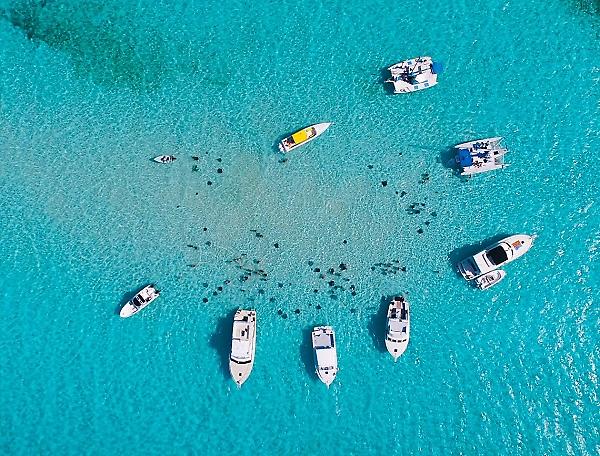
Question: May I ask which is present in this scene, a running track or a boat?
boat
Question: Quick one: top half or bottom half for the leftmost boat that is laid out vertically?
bottom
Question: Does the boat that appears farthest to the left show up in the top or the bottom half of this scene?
bottom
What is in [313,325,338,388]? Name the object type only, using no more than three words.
boat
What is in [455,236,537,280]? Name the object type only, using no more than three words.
boat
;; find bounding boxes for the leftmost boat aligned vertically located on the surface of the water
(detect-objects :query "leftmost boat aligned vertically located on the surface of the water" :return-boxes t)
[231,308,257,387]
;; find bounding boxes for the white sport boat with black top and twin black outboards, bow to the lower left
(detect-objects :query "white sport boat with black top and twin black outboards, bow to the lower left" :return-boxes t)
[120,284,161,318]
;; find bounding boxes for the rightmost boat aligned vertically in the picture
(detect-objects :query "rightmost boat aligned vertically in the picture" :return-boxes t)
[387,297,409,361]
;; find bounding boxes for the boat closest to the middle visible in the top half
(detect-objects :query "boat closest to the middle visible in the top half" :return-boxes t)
[278,122,332,153]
